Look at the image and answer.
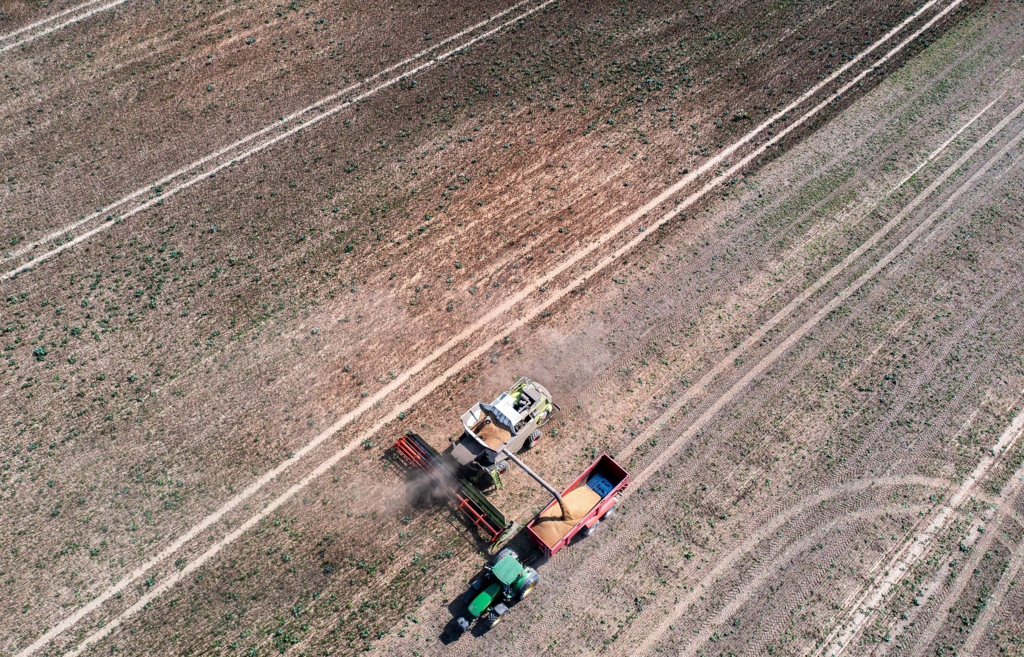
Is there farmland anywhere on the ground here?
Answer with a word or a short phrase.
Yes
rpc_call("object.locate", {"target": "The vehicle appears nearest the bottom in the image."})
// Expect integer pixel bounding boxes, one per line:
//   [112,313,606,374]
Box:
[456,546,539,634]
